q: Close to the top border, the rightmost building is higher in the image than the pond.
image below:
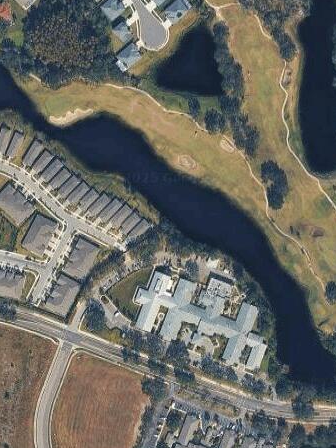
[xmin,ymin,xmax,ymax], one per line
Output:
[164,0,190,23]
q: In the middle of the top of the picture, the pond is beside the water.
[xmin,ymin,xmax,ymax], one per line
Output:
[157,25,222,96]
